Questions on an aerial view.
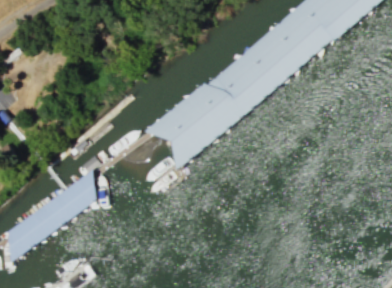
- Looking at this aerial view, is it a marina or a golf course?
marina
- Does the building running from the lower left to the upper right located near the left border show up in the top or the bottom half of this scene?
bottom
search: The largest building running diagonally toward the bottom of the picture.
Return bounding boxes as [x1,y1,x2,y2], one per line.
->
[8,171,97,263]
